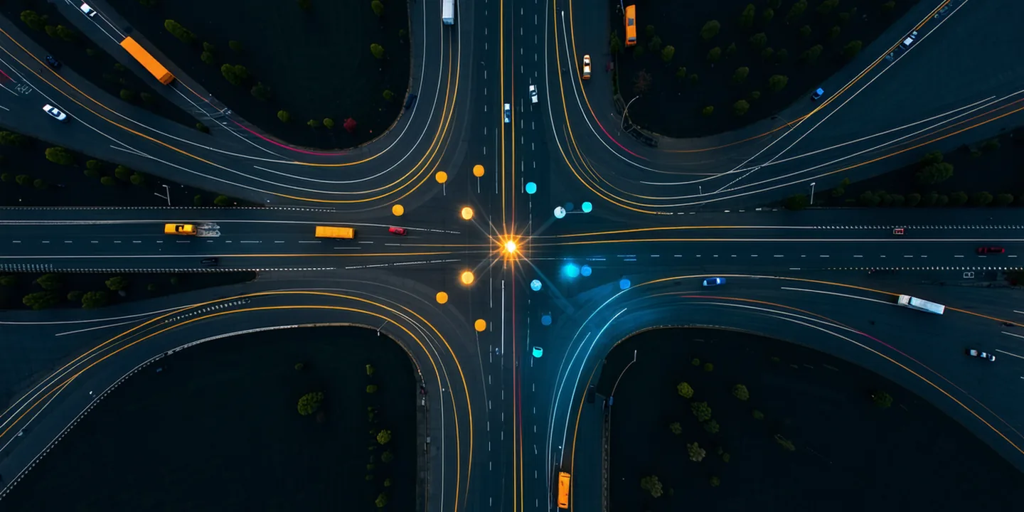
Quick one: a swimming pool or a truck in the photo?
truck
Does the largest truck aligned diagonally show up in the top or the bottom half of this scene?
top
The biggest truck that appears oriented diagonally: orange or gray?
orange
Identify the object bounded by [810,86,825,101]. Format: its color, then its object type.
blue car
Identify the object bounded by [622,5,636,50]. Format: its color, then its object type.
orange vehicle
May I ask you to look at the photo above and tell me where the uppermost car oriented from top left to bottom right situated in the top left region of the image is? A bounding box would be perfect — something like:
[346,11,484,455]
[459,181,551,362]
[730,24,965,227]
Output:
[79,1,99,19]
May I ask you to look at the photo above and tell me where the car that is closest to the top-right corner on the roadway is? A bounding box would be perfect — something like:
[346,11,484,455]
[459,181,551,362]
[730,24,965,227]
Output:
[933,1,951,18]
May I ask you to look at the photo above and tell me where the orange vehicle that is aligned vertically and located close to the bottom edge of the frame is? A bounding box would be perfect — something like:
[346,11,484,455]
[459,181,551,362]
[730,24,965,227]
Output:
[557,467,572,508]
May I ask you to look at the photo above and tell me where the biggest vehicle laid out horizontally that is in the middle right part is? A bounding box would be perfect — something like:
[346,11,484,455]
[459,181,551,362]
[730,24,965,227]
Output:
[890,292,946,314]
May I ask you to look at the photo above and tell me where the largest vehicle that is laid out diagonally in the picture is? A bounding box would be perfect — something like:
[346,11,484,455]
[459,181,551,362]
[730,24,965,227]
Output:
[119,35,180,88]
